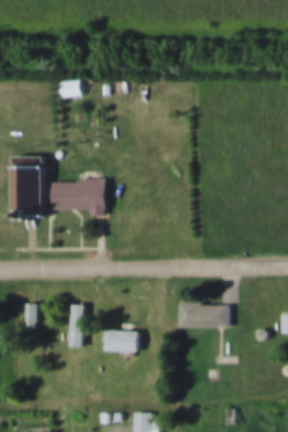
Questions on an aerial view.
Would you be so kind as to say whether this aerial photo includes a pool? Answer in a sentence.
No, I can see no pool in this picture.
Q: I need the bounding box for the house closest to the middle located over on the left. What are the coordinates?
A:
[50,179,110,218]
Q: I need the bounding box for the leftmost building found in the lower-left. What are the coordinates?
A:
[26,302,40,326]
